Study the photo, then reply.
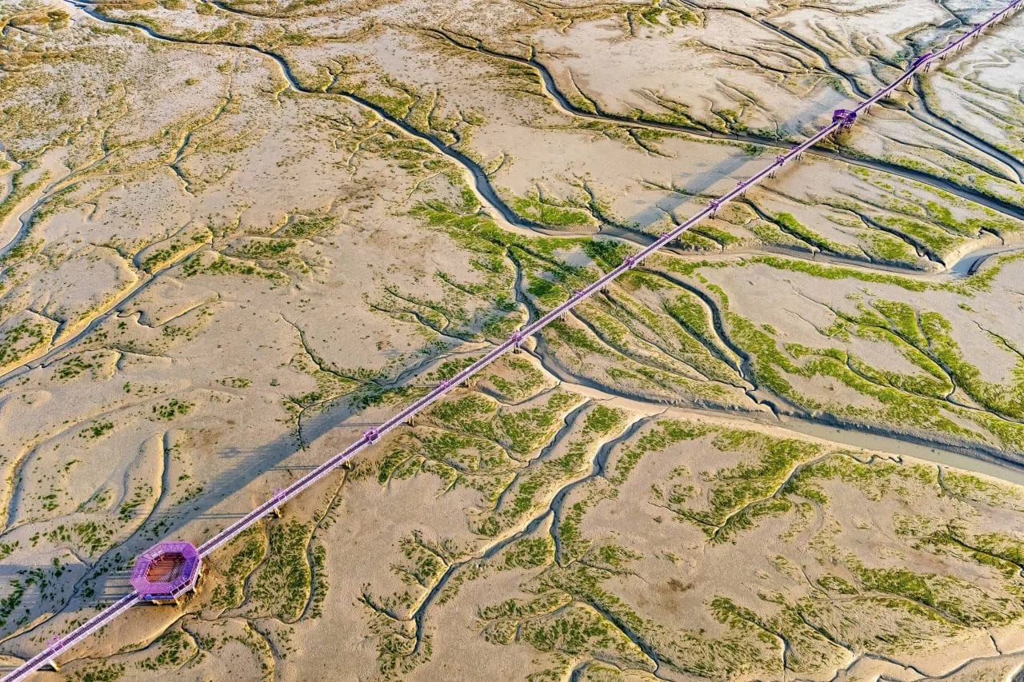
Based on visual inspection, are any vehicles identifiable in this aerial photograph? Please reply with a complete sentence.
No, I can see no vehicle in this picture.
